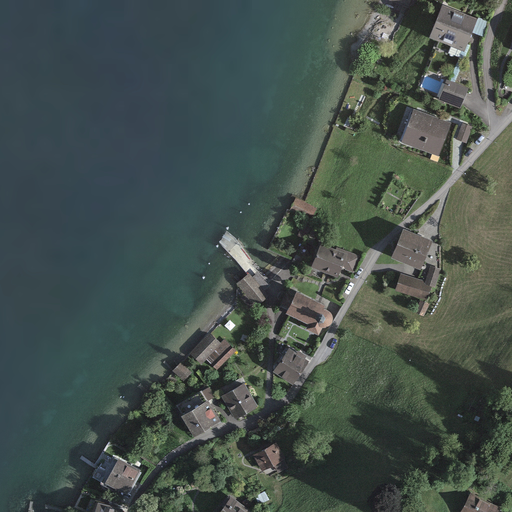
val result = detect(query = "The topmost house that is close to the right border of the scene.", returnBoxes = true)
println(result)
[429,3,487,58]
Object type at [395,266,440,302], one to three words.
barn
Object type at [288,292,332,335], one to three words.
building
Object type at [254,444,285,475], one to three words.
house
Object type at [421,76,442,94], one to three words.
swimming pool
